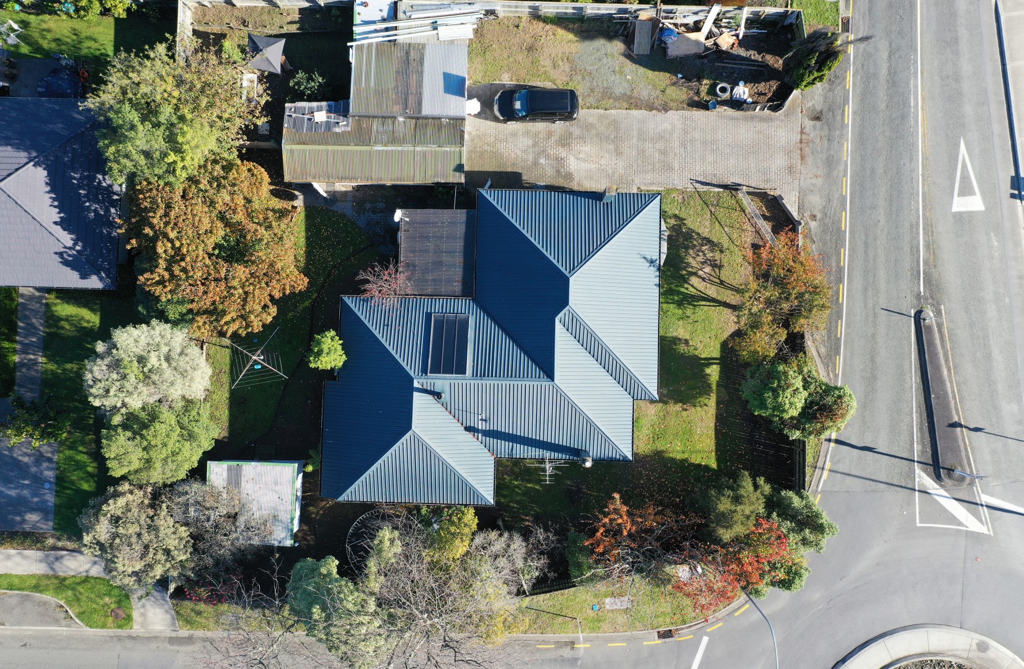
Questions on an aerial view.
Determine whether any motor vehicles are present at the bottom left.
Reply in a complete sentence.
No, no motor vehicle can be made out at the bottom left.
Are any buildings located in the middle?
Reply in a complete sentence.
Yes, in the middle there is a building.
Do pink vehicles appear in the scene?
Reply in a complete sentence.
No, the picture doesn't show any pink vehicle.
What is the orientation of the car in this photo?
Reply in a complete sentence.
From this overhead view, the car appears to run horizontally.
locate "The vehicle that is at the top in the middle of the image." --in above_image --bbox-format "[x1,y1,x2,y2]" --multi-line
[495,81,581,125]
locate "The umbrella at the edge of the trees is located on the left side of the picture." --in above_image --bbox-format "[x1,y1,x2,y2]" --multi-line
[247,32,286,73]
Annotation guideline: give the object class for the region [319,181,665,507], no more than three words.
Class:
house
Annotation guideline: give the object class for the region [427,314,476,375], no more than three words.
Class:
solar panel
